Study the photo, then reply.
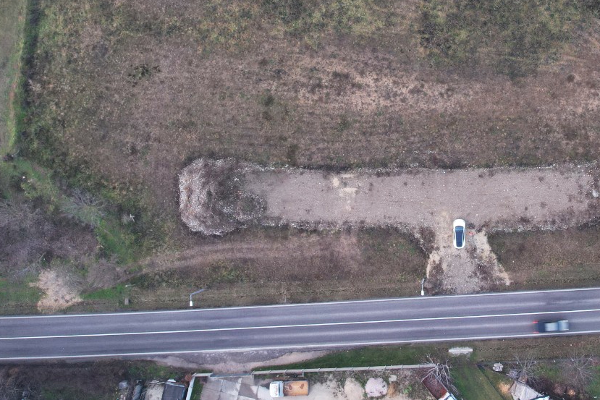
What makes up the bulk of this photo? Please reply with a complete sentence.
The largest share of the image is taken up by grass.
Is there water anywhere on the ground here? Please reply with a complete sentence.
No, there is no water in the image.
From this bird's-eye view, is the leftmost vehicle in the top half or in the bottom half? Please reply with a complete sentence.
The bottom half of the photo is where the leftmost vehicle is.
